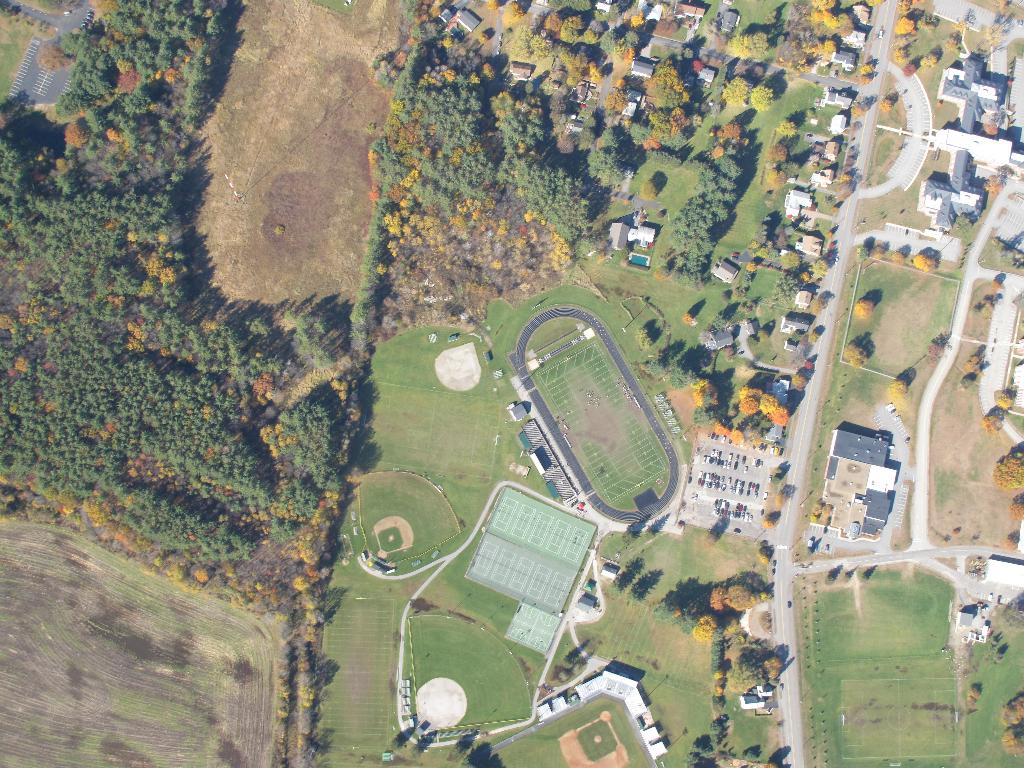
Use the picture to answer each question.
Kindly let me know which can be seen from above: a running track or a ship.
running track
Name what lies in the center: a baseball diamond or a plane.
baseball diamond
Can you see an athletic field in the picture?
Yes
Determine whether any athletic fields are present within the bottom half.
Yes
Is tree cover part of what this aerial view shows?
Yes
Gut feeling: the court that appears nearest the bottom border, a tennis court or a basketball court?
basketball court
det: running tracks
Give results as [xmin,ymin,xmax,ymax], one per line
[510,308,682,524]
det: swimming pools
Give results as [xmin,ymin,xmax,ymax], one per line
[628,252,651,269]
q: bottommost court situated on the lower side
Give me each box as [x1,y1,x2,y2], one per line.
[506,598,562,655]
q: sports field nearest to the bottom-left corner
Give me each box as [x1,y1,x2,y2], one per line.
[326,593,396,748]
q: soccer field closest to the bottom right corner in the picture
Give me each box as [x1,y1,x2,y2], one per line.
[835,675,961,762]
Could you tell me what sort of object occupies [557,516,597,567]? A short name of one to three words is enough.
tennis court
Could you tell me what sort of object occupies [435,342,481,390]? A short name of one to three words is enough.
baseball field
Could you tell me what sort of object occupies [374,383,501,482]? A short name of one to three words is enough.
sports field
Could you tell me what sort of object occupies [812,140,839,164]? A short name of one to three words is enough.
house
